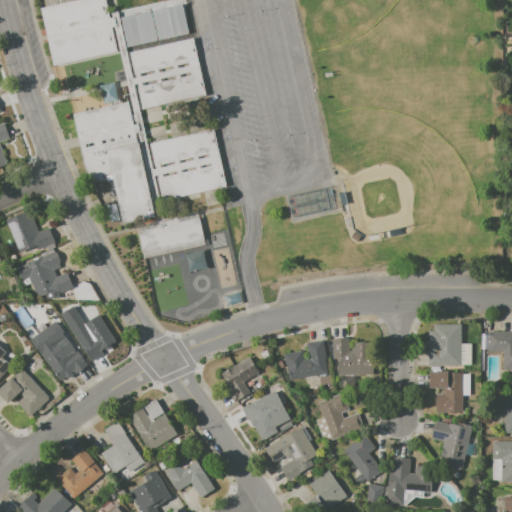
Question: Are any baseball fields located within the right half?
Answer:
Yes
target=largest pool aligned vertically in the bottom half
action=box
[488,356,500,381]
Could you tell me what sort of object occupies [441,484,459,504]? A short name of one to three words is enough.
swimming pool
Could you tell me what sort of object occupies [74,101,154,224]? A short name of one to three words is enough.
building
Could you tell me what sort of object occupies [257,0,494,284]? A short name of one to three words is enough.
sports field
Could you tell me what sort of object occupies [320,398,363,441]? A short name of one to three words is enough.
house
